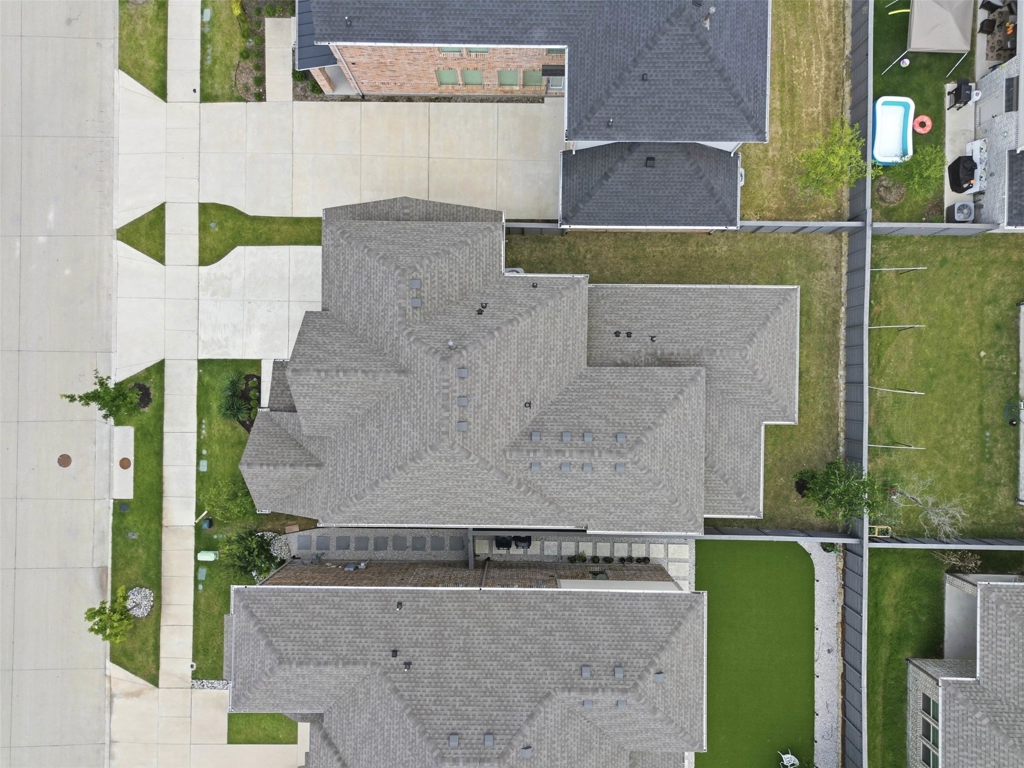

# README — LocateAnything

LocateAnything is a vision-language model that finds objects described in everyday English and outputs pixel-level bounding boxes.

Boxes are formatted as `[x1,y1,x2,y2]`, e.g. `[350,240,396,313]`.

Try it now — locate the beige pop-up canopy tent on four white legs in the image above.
[882,0,972,75]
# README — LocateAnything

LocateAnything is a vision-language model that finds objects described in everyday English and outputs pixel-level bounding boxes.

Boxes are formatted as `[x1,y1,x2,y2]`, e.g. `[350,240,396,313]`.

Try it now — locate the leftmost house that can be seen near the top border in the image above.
[294,0,772,236]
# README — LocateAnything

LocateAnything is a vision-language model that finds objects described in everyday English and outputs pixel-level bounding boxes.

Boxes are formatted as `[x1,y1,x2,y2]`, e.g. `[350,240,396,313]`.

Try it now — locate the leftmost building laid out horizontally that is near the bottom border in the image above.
[223,554,709,768]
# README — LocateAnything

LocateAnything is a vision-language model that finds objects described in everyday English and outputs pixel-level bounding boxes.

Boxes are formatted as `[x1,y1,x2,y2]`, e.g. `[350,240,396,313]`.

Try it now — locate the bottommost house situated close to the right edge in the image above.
[906,574,1024,768]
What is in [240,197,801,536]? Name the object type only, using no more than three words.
house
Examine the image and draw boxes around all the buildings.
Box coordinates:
[294,0,772,236]
[974,0,1024,232]
[240,197,801,536]
[223,554,709,768]
[906,574,1024,768]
